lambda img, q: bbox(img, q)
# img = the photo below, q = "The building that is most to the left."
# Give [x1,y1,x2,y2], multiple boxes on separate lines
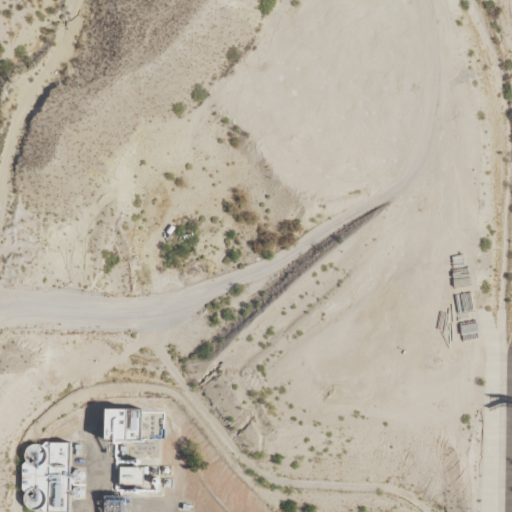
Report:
[22,440,73,512]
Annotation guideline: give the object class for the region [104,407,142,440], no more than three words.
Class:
building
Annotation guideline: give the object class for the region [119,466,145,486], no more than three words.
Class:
building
